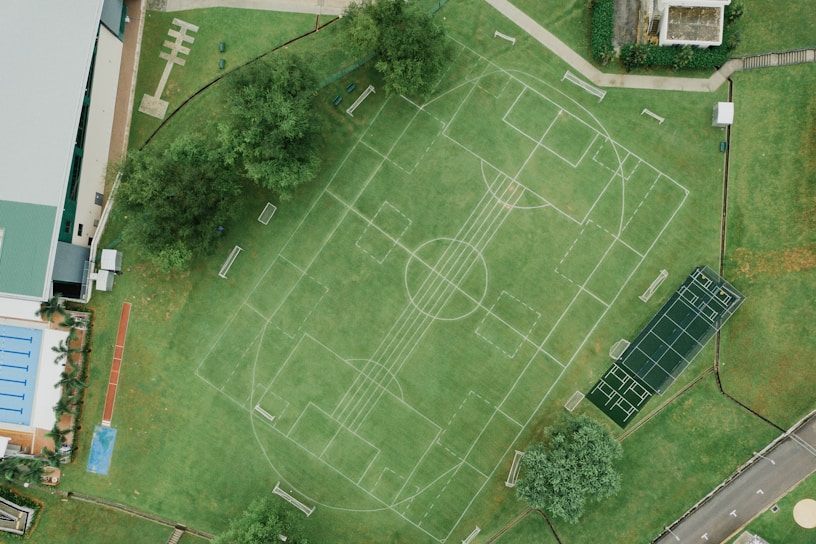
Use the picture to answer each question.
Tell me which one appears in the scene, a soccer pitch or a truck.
soccer pitch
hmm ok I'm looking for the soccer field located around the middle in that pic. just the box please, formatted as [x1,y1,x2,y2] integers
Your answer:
[197,29,689,541]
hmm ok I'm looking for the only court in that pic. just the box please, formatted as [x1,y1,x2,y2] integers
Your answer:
[586,266,737,429]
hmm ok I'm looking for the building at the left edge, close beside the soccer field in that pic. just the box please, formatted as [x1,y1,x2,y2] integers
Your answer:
[0,0,128,305]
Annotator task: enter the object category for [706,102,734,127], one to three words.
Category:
shed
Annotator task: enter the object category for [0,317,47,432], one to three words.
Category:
swimming pool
